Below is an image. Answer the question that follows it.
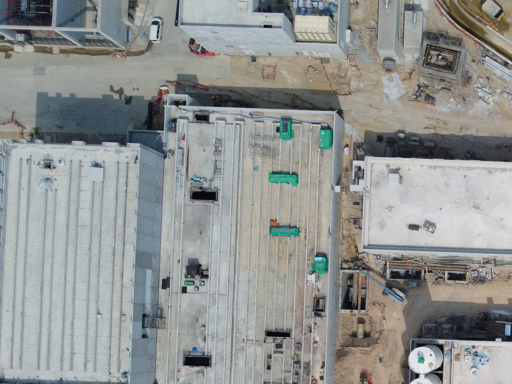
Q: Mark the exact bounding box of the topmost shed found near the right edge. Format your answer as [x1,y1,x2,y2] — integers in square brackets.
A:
[481,0,505,27]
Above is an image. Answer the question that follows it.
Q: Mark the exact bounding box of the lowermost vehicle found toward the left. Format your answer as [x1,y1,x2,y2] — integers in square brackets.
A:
[151,18,165,45]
